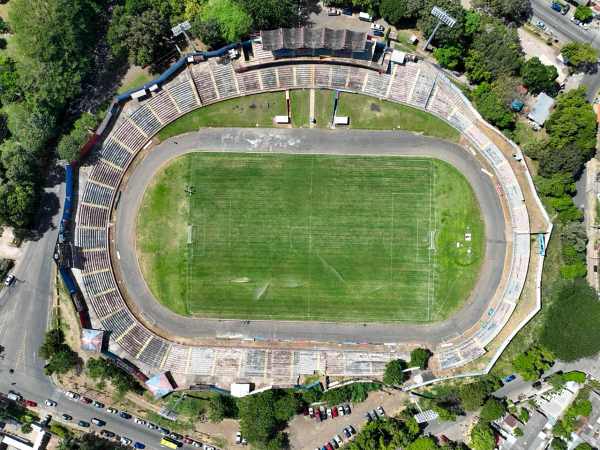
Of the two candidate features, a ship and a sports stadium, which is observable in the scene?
sports stadium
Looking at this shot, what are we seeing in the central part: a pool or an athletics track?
athletics track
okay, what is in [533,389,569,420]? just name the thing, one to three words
house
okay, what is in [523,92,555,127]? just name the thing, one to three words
house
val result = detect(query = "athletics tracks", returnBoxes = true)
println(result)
[116,127,507,343]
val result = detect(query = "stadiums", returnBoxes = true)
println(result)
[53,25,531,390]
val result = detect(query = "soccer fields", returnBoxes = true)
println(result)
[137,152,484,323]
